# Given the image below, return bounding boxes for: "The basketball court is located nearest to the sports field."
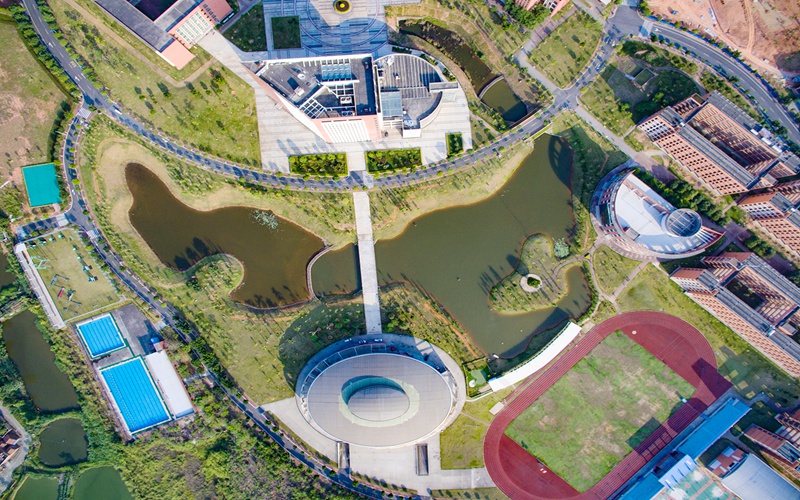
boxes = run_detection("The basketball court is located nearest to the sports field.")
[650,459,741,500]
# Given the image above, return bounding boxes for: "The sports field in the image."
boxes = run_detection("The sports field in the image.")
[504,330,695,492]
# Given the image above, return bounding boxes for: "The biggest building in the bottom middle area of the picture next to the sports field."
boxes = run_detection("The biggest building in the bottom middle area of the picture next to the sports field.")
[295,333,466,450]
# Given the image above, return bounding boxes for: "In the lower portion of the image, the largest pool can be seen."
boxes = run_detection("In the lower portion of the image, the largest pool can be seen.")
[97,356,173,435]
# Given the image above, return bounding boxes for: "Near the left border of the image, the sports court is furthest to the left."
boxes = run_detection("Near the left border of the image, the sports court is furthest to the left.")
[20,162,62,207]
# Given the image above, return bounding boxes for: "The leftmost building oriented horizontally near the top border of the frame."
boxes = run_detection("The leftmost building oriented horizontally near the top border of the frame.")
[91,0,245,69]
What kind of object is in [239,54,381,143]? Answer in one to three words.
building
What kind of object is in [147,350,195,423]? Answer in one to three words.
shed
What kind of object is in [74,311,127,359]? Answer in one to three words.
swimming pool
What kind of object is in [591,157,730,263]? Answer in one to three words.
building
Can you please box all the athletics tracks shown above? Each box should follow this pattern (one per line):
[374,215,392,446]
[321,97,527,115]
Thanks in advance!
[482,309,732,500]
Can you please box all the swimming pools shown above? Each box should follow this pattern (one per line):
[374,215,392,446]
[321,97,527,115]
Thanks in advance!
[74,311,127,359]
[97,356,173,435]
